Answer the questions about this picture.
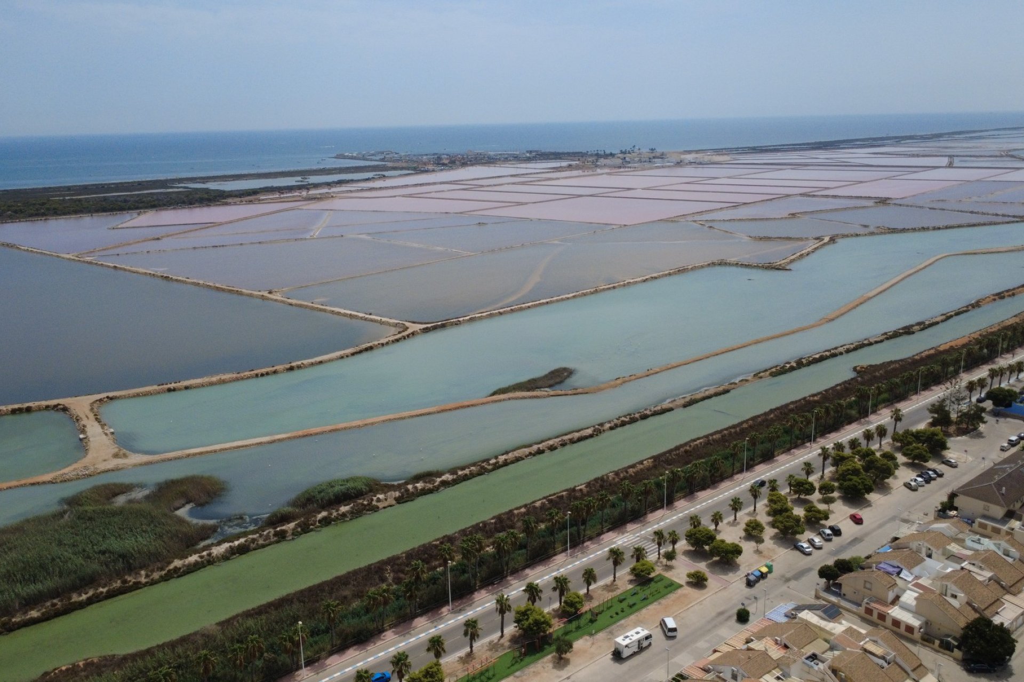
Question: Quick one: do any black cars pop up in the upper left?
No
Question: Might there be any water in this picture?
Yes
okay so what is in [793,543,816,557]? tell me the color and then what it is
gray car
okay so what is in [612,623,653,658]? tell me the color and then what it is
white camper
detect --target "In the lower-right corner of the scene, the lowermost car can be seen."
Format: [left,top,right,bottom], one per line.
[961,659,996,681]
